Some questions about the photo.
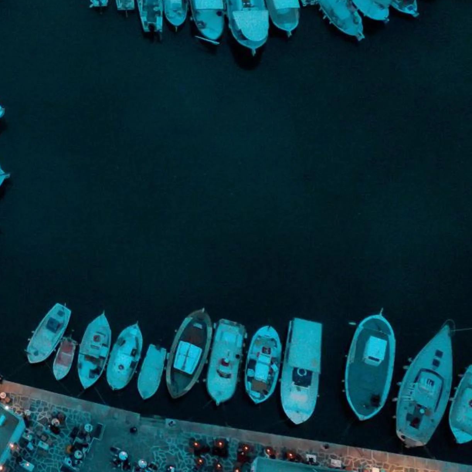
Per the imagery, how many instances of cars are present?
zero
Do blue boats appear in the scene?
Yes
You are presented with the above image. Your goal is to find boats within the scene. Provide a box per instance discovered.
[239,314,282,432]
[109,323,143,410]
[448,364,472,471]
[188,0,228,48]
[138,0,163,40]
[77,291,112,401]
[280,316,326,439]
[386,0,421,22]
[166,309,211,426]
[341,308,396,454]
[393,324,469,463]
[225,0,268,57]
[134,342,168,417]
[11,290,74,386]
[318,0,367,42]
[54,334,76,395]
[115,0,135,16]
[263,0,301,41]
[349,0,391,25]
[163,0,188,31]
[91,0,110,12]
[206,311,246,424]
